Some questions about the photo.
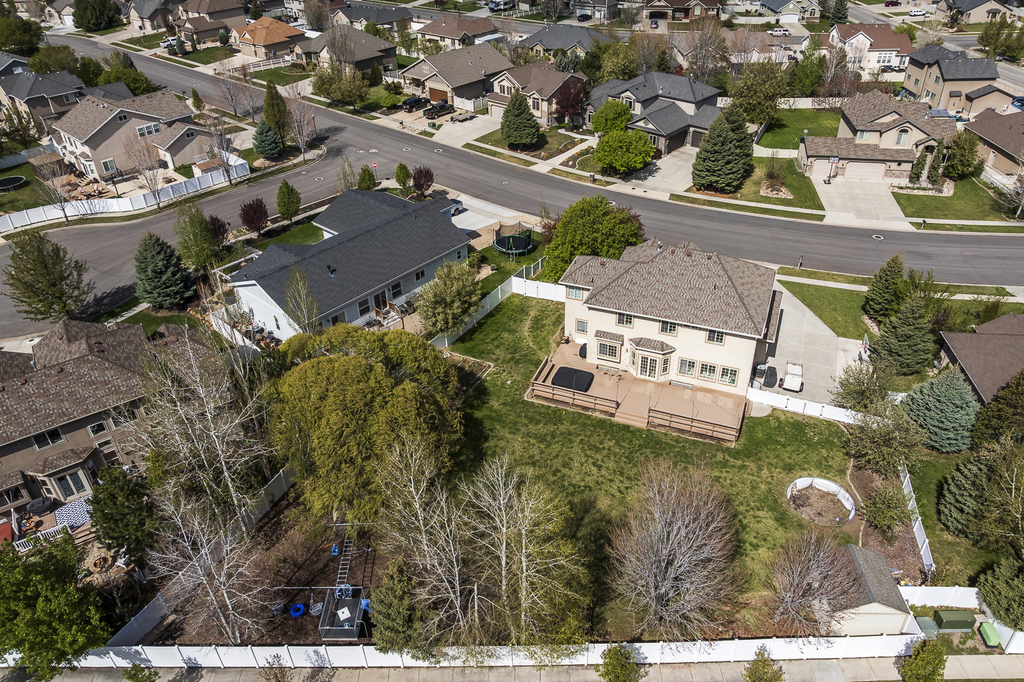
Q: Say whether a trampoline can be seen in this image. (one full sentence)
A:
Yes, a trampoline appears in the view.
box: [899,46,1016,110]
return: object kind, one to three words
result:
house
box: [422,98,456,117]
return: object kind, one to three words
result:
vehicle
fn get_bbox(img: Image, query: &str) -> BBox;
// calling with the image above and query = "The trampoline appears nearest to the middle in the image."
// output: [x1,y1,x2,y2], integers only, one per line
[494,220,532,261]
